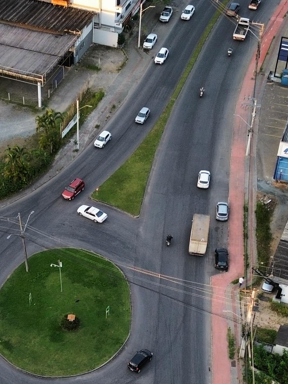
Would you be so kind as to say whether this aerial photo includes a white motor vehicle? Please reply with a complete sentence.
Yes, a white motor vehicle appears in the view.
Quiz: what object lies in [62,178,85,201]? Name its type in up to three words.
car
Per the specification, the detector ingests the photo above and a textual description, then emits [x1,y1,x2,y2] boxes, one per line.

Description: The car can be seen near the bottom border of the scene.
[126,350,154,375]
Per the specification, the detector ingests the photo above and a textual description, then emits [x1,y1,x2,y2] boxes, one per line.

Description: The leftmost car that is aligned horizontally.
[76,207,108,224]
